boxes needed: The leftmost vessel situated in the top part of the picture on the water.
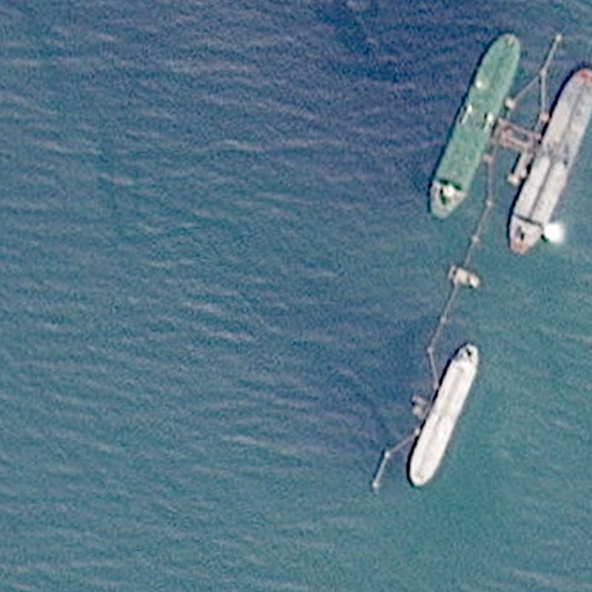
[429,33,520,219]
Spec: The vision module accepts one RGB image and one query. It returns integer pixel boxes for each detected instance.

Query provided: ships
[429,33,520,219]
[410,342,480,487]
[510,68,592,255]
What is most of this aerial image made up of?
water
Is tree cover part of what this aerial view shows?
No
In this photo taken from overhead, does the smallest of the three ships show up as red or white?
white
